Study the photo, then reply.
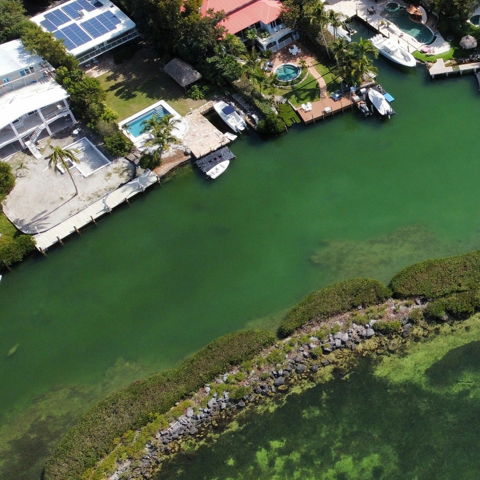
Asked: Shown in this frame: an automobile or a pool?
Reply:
pool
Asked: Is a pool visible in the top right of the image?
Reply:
Yes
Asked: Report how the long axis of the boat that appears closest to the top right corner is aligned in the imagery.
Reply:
at an angle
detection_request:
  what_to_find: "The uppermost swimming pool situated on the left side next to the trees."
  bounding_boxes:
[122,102,178,140]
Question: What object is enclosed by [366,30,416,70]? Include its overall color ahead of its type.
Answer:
white boat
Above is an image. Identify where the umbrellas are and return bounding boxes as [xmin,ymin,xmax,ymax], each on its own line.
[417,39,434,50]
[457,36,480,52]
